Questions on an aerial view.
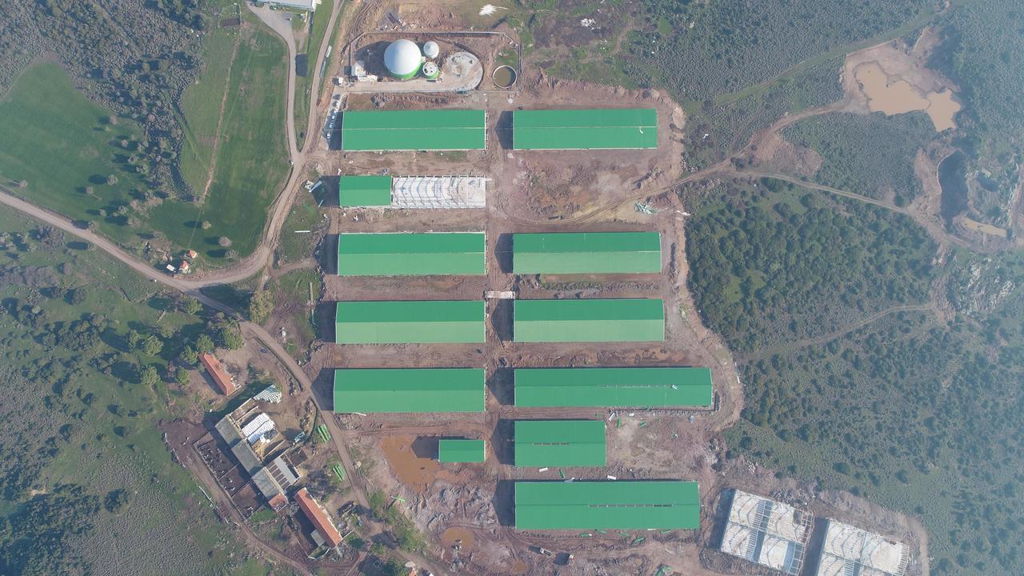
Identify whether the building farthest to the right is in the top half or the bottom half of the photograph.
bottom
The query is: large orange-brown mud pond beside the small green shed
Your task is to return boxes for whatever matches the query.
[376,433,443,491]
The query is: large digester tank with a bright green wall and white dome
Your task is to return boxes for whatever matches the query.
[384,40,422,81]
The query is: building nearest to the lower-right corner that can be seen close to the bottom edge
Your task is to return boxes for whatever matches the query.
[814,519,914,576]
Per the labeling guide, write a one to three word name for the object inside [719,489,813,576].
building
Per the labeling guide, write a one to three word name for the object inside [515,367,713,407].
shed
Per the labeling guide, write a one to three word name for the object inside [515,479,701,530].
shed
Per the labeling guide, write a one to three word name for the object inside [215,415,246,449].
barn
